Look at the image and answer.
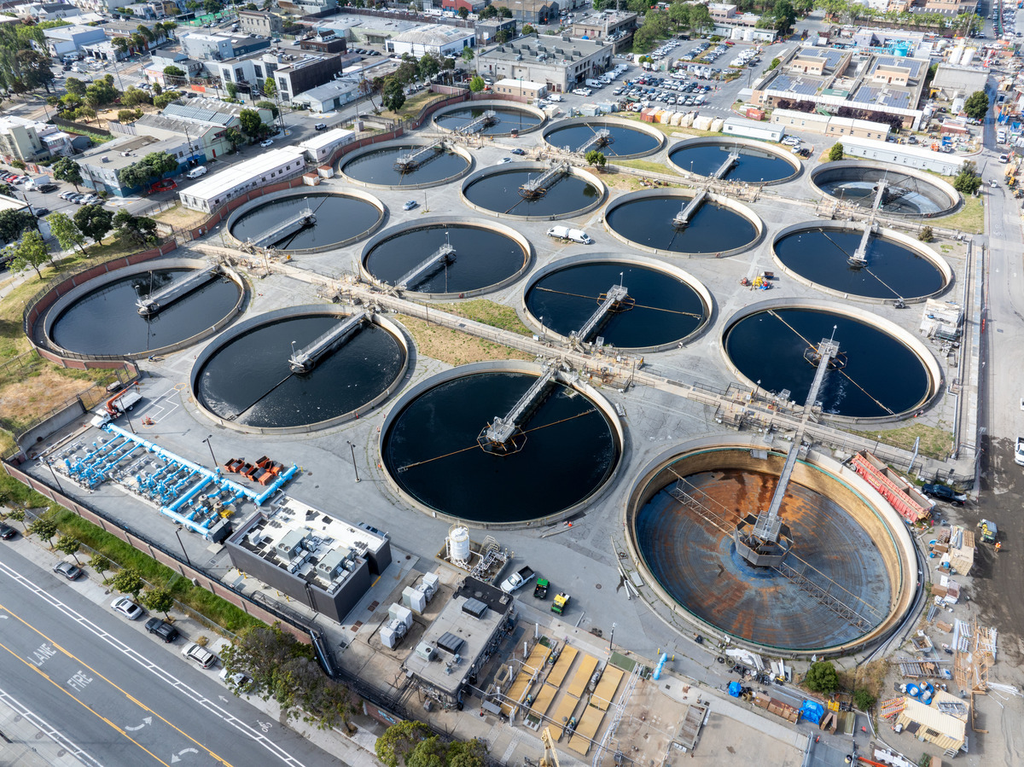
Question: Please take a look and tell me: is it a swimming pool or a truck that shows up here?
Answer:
truck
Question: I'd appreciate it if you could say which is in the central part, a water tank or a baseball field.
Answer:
water tank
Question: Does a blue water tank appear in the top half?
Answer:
Yes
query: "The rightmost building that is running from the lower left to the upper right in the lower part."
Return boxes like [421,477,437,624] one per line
[389,577,515,722]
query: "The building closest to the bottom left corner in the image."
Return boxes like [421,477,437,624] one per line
[224,491,390,624]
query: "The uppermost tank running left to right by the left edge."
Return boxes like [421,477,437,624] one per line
[43,256,250,364]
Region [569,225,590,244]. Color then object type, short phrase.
white vehicle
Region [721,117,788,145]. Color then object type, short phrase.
white trailer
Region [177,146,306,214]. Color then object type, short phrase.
white trailer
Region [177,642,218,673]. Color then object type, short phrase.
white car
